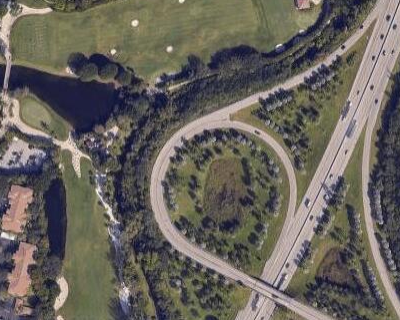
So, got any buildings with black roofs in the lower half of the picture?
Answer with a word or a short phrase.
No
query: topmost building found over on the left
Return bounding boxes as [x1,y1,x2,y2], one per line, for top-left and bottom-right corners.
[3,185,33,232]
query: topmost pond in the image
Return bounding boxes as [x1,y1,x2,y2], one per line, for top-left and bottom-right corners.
[0,62,117,134]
